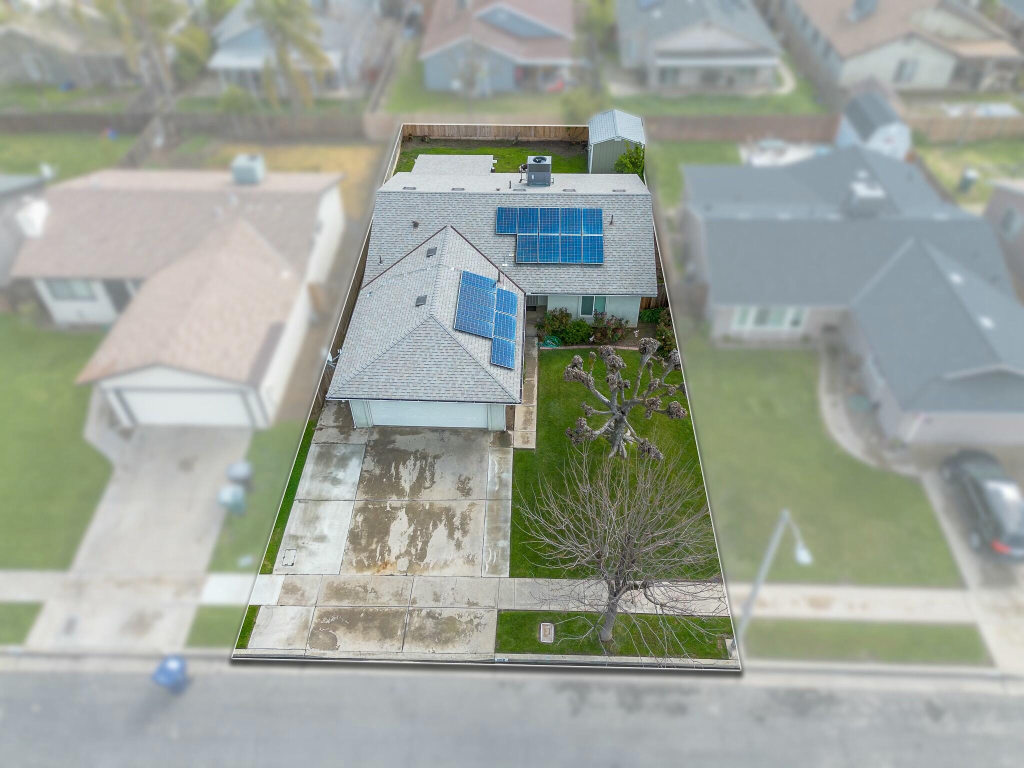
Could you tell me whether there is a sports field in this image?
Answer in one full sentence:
No, there's no sports field here.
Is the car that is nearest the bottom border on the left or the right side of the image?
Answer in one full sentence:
The car that is nearest the bottom border sits on the right side.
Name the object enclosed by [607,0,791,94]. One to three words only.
house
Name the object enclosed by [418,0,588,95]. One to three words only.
house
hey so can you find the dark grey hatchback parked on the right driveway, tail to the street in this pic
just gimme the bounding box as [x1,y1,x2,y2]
[935,451,1024,552]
